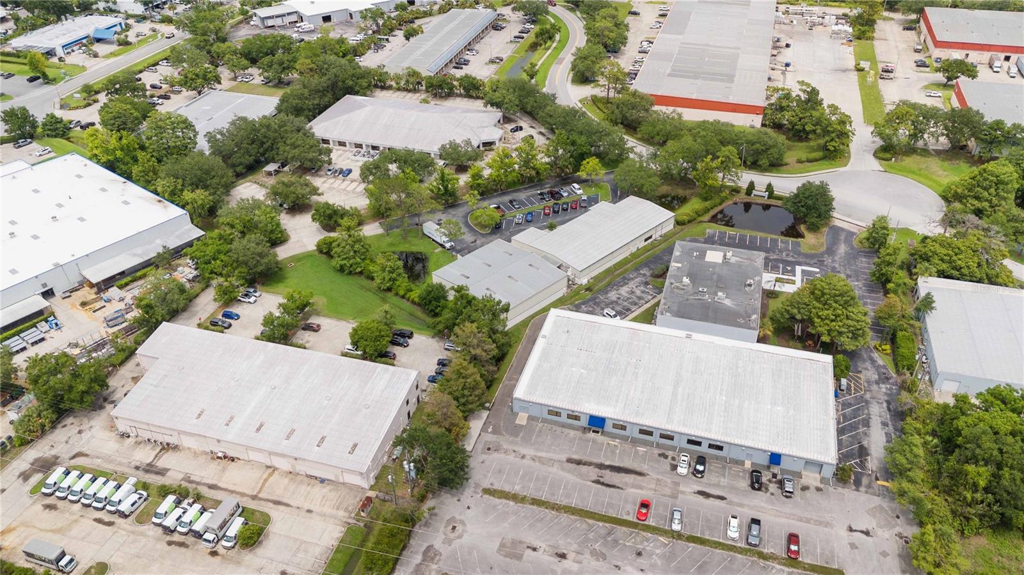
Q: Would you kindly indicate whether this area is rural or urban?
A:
urban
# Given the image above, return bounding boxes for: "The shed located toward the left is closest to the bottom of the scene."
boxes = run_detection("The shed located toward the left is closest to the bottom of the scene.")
[351,492,374,521]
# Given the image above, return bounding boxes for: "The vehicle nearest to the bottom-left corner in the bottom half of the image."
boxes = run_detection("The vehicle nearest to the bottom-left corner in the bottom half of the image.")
[23,536,73,571]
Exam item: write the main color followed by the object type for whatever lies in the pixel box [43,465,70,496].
white vehicle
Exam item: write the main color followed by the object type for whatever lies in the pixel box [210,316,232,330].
gray car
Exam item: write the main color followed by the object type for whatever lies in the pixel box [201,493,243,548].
white truck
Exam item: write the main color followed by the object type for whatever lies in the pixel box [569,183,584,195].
white vehicle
